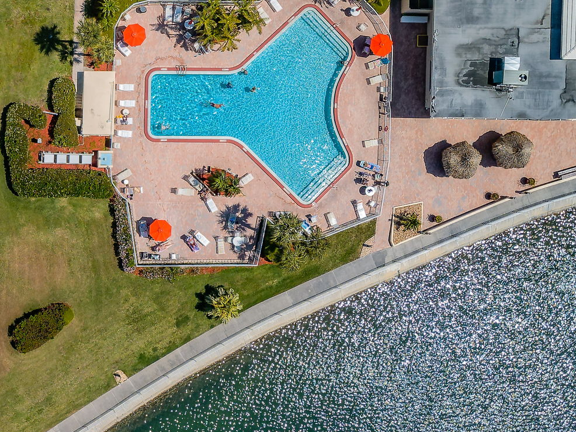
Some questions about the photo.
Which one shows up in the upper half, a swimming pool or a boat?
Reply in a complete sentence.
You can see a swimming pool in the upper half.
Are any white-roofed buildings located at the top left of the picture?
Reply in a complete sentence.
Yes, a white-roofed building is visible at the top left of the picture.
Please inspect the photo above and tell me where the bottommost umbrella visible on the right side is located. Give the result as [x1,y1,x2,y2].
[367,33,391,57]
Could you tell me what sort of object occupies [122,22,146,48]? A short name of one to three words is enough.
umbrella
